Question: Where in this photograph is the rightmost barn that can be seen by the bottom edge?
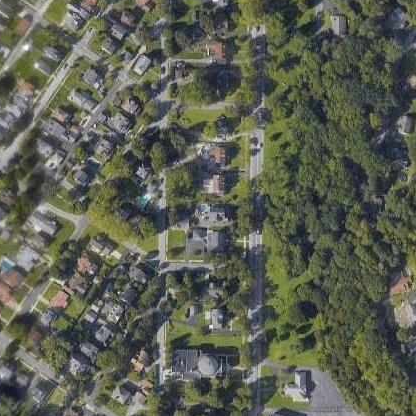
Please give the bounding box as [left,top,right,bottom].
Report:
[284,370,308,402]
